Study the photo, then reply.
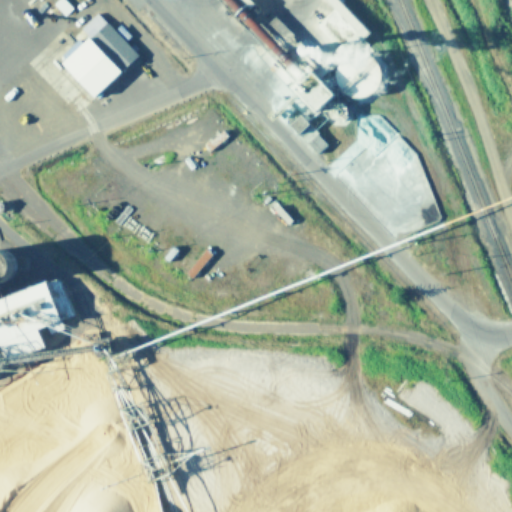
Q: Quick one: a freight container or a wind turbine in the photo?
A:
freight container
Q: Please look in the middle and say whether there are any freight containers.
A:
Yes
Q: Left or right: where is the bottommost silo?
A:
left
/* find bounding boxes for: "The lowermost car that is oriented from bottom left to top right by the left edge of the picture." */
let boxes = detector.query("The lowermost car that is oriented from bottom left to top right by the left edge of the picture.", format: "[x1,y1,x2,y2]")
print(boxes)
[3,86,21,103]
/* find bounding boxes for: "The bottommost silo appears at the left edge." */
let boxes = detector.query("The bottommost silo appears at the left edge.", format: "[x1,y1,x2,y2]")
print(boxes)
[0,250,22,288]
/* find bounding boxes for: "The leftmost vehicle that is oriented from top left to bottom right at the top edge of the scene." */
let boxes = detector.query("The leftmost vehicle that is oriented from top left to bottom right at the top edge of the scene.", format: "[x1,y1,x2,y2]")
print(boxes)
[22,10,40,30]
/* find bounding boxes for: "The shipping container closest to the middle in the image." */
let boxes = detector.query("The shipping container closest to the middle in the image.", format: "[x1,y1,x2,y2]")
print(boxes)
[190,250,214,280]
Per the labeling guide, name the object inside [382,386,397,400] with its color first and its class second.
white vehicle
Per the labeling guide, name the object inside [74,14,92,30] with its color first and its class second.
white vehicle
